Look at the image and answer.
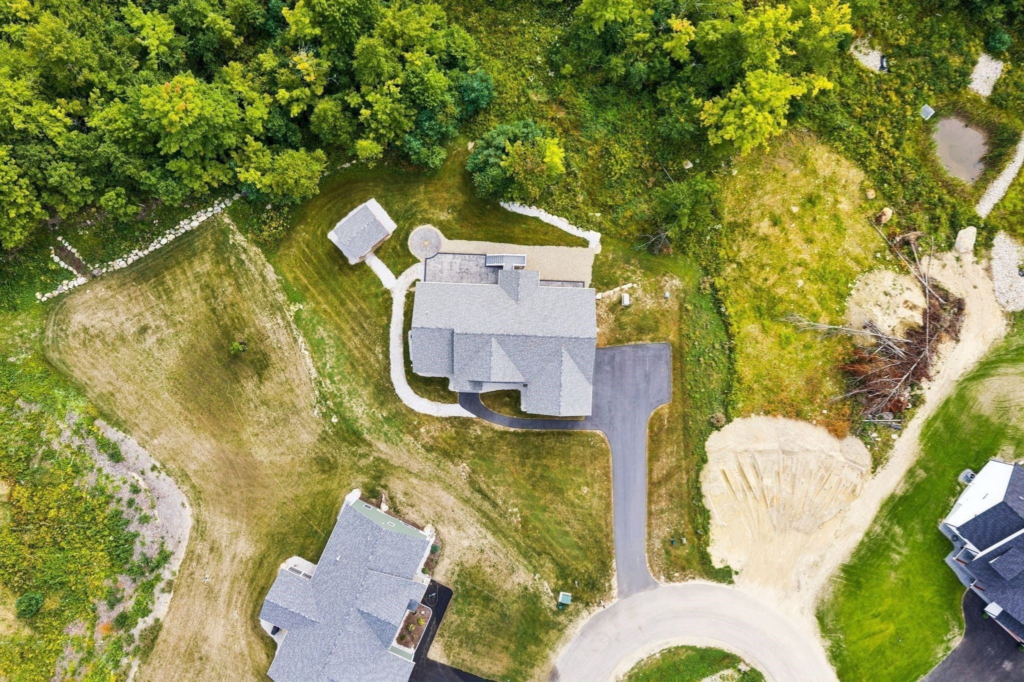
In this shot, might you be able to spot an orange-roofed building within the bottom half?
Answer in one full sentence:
No, no orange-roofed building appears within the bottom half.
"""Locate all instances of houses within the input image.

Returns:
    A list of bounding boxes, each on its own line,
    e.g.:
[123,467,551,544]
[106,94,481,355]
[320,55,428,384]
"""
[259,498,431,682]
[940,460,1024,642]
[411,269,597,416]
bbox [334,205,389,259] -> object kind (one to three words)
shed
